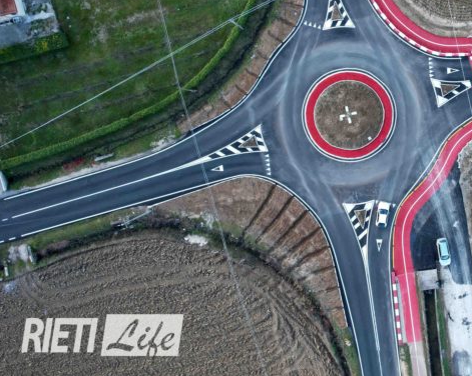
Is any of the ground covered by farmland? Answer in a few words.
Yes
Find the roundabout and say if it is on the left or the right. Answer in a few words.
right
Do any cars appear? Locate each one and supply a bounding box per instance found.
[437,239,451,265]
[376,201,389,227]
